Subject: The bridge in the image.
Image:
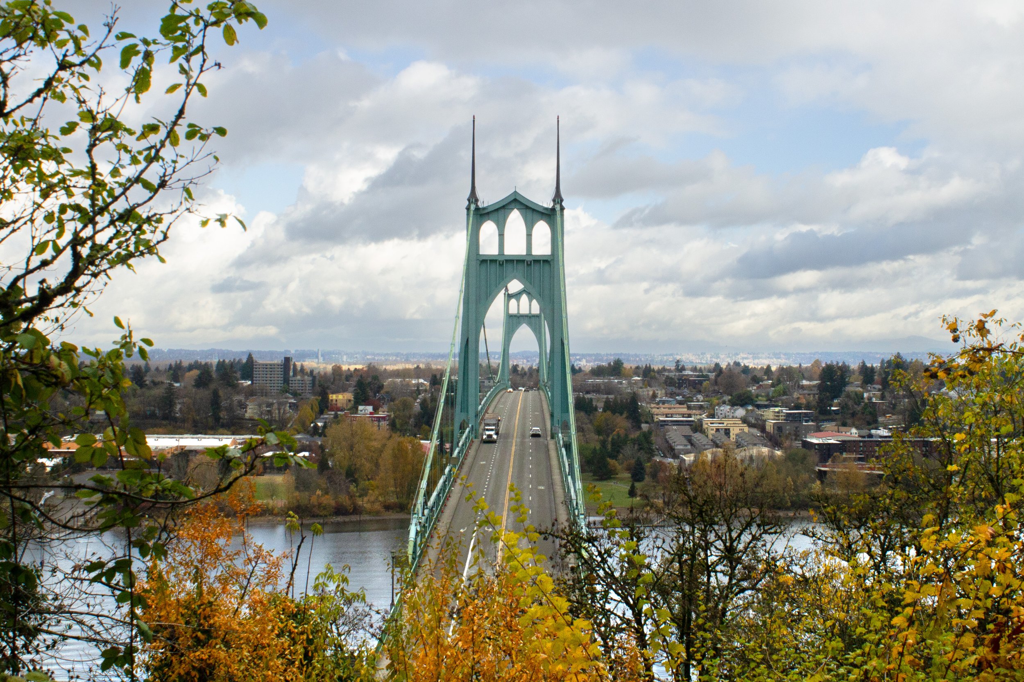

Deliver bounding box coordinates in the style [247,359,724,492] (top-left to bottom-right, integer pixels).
[363,115,595,682]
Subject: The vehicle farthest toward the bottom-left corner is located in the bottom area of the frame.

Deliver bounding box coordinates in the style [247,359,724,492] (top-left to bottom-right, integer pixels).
[483,419,498,443]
